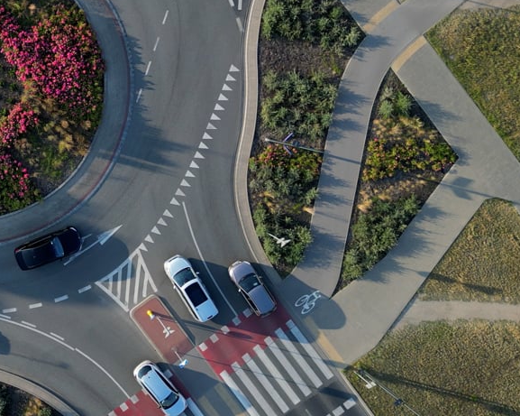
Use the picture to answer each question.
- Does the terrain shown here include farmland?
No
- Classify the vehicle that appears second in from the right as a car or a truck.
car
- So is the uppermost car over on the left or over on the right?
left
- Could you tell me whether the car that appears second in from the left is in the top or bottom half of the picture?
bottom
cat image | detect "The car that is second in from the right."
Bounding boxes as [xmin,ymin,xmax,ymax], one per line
[163,254,219,322]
